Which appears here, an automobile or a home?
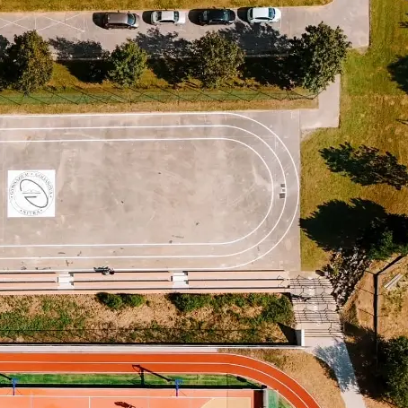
automobile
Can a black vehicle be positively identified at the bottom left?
No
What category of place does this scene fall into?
sports ground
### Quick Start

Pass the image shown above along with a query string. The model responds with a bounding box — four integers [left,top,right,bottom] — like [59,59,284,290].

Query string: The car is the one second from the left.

[149,5,184,26]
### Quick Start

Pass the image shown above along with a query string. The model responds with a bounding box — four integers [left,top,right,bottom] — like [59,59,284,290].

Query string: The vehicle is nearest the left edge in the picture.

[103,8,138,29]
